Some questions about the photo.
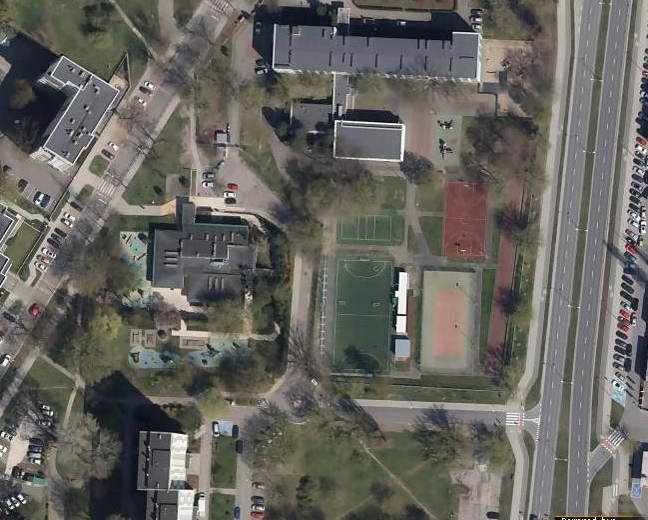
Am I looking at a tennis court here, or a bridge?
tennis court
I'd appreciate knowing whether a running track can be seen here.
Yes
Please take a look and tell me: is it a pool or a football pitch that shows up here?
football pitch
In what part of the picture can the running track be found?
right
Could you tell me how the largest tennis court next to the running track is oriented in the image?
from top to bottom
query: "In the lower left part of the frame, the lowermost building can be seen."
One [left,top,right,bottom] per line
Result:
[136,432,200,520]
